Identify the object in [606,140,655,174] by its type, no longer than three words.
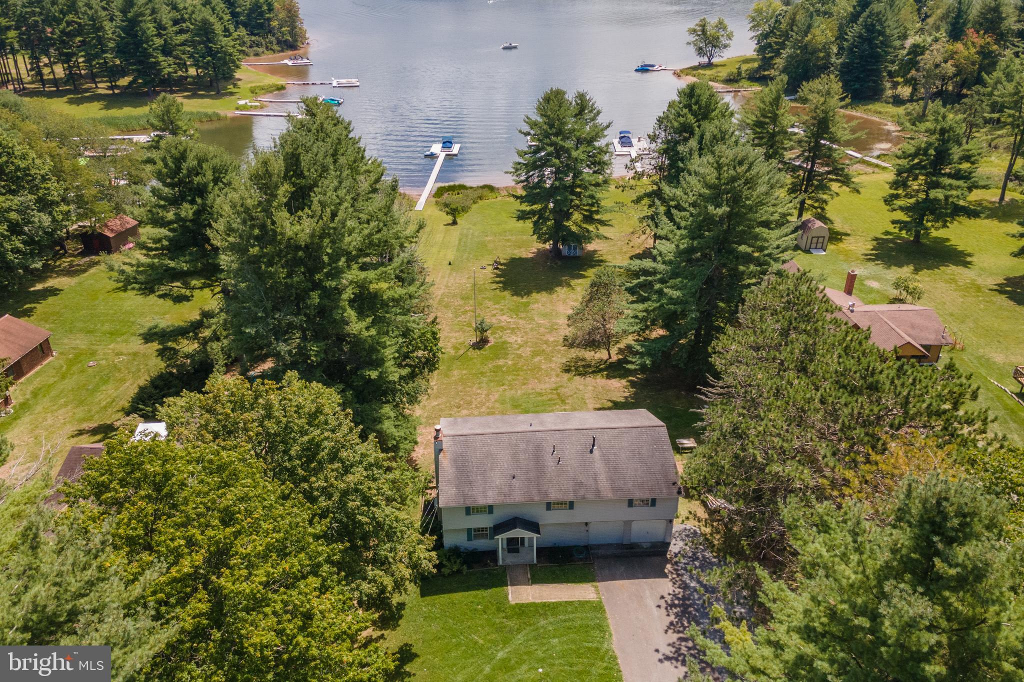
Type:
pier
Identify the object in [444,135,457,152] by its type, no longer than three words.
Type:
boat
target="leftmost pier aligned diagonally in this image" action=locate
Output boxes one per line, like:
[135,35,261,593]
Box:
[420,144,465,198]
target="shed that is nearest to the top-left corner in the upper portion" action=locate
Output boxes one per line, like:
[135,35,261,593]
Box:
[69,215,123,255]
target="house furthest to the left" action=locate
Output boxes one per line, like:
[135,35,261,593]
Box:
[0,318,59,403]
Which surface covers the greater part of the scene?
trees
